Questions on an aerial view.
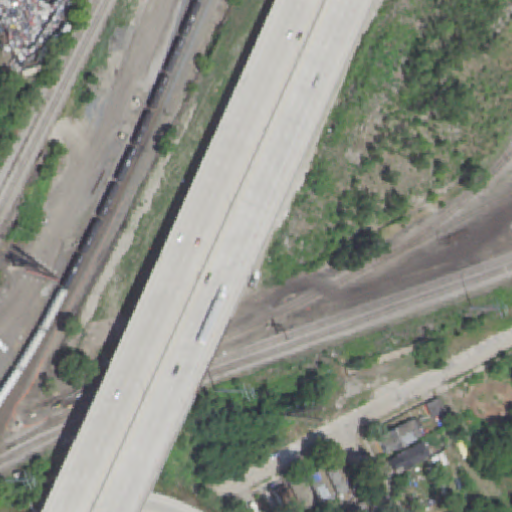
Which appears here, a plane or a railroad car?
railroad car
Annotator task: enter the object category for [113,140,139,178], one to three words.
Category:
rail car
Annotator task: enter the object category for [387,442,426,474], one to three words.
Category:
house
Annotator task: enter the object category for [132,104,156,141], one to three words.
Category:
rail car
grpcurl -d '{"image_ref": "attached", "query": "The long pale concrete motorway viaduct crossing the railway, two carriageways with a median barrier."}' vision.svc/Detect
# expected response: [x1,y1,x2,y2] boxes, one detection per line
[40,0,382,512]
